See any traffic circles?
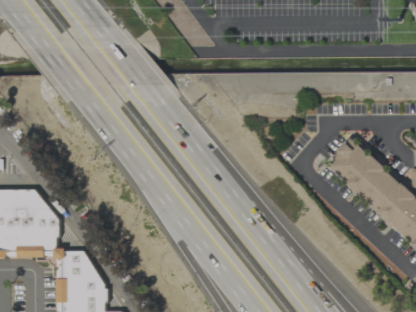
No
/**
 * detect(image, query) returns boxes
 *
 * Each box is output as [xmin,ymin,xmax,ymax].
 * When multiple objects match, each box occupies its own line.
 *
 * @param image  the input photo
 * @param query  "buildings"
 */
[0,190,110,312]
[330,140,416,252]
